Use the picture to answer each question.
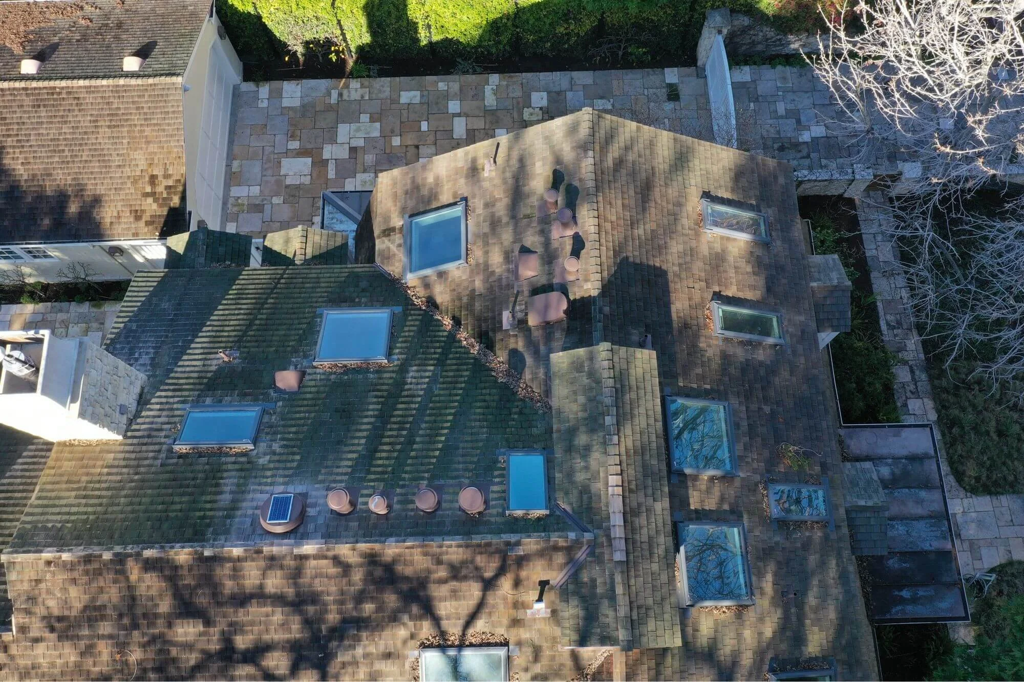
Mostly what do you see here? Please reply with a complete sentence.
The largest share of the image is taken up by buildings.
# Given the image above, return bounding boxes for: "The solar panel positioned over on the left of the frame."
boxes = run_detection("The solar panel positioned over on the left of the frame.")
[265,497,293,524]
